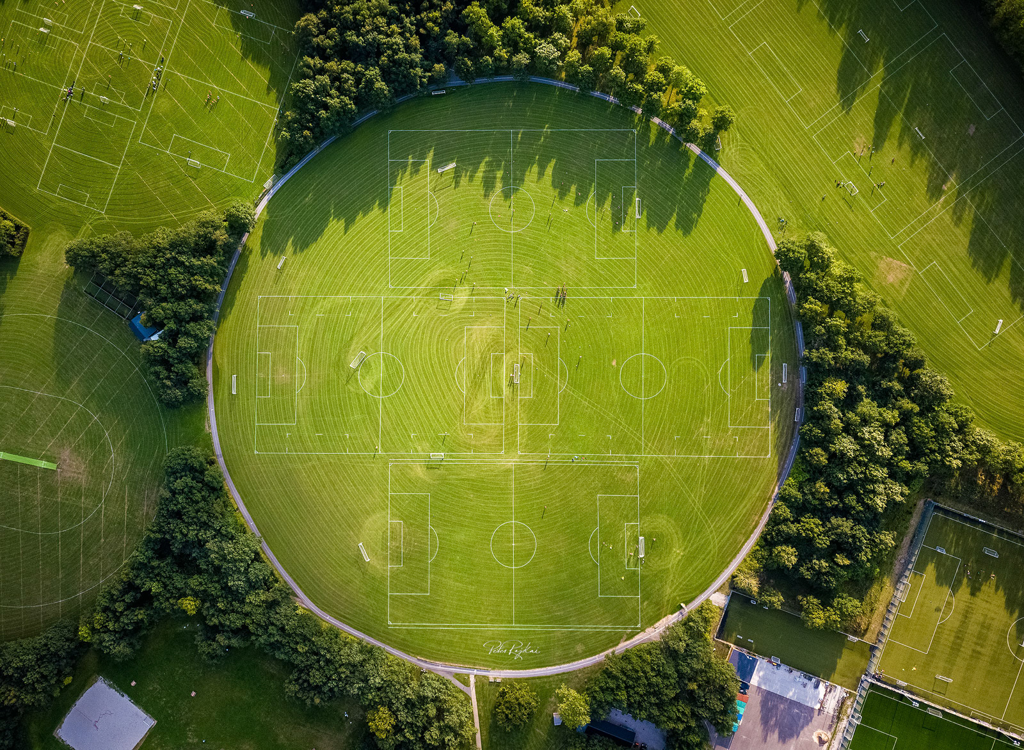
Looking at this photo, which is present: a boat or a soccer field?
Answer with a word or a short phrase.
soccer field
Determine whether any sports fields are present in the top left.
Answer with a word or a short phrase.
Yes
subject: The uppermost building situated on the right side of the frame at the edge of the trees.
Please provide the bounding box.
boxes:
[723,646,759,683]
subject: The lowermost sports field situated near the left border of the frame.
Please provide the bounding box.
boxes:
[0,257,173,639]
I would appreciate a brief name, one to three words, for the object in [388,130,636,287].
soccer field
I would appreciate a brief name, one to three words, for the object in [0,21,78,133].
soccer field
